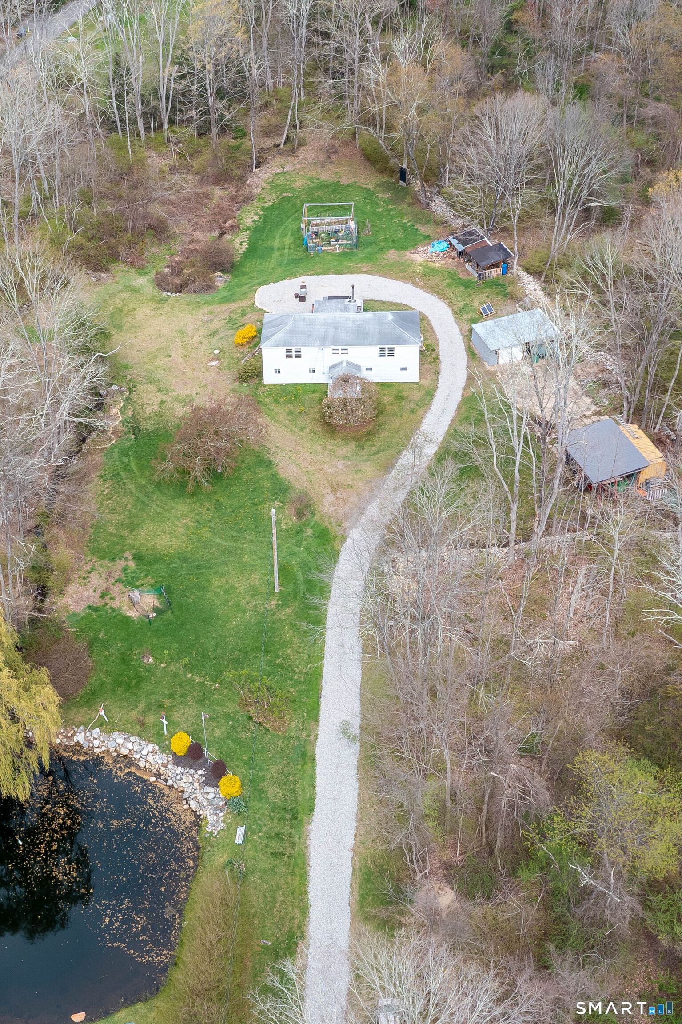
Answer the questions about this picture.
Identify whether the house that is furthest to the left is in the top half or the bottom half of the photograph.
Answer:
top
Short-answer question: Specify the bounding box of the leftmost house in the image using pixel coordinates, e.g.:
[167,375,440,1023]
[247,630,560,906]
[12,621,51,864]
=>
[259,284,424,398]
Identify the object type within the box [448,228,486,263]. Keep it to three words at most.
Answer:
shed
